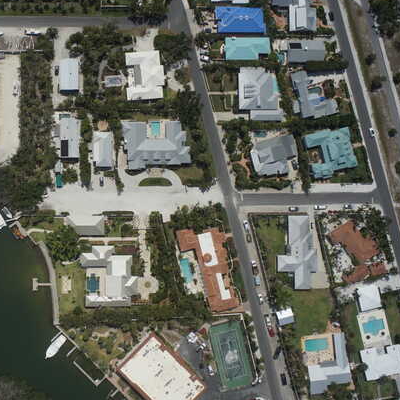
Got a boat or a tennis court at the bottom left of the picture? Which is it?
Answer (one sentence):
Looking at the bottom left of the picture, you will find a boat.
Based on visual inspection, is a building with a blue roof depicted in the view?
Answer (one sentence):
Yes, a building with a blue roof can be made out from above.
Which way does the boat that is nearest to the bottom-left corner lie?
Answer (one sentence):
The boat that is nearest to the bottom-left corner has been laid out on a diagonal relative to the frame.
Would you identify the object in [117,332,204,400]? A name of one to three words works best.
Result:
building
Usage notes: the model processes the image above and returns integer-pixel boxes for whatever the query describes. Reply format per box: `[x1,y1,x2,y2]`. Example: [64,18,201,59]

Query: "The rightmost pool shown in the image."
[362,317,386,335]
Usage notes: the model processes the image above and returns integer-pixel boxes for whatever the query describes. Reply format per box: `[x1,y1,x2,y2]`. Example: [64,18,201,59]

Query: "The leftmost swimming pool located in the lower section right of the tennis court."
[305,337,330,352]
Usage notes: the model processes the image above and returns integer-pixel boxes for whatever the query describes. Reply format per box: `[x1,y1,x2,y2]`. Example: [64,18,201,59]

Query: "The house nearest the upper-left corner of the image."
[59,58,79,90]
